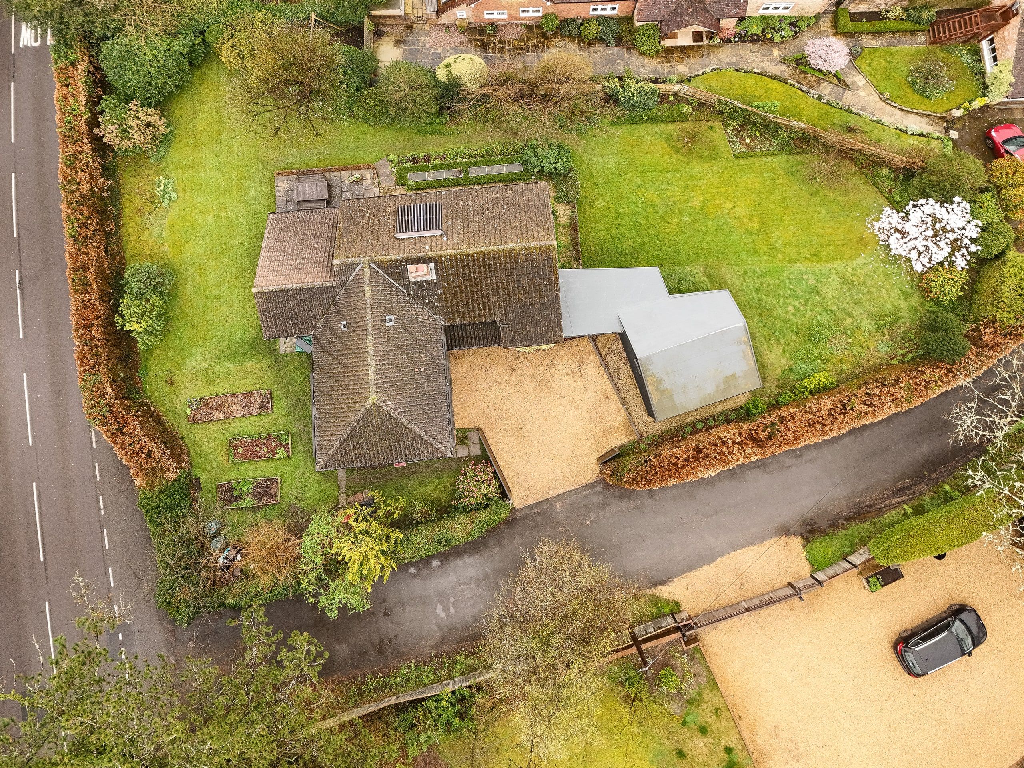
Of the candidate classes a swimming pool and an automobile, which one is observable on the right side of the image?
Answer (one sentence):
What appears on the right side of the image is an automobile.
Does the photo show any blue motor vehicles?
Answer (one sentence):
No, the photo shows no blue motor vehicle.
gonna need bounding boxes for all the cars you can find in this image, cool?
[984,125,1024,171]
[896,602,982,675]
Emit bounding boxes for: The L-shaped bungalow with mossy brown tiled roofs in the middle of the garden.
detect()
[254,179,566,473]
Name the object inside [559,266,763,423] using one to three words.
building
